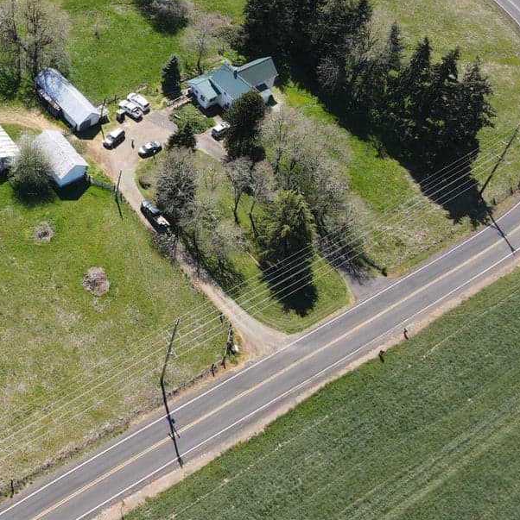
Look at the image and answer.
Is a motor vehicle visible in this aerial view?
Yes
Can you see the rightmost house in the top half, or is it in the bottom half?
top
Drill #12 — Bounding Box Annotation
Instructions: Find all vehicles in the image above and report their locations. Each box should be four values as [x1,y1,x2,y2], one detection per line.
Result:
[138,142,162,156]
[208,122,227,137]
[129,93,151,110]
[104,128,127,147]
[118,100,143,118]
[142,204,170,230]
